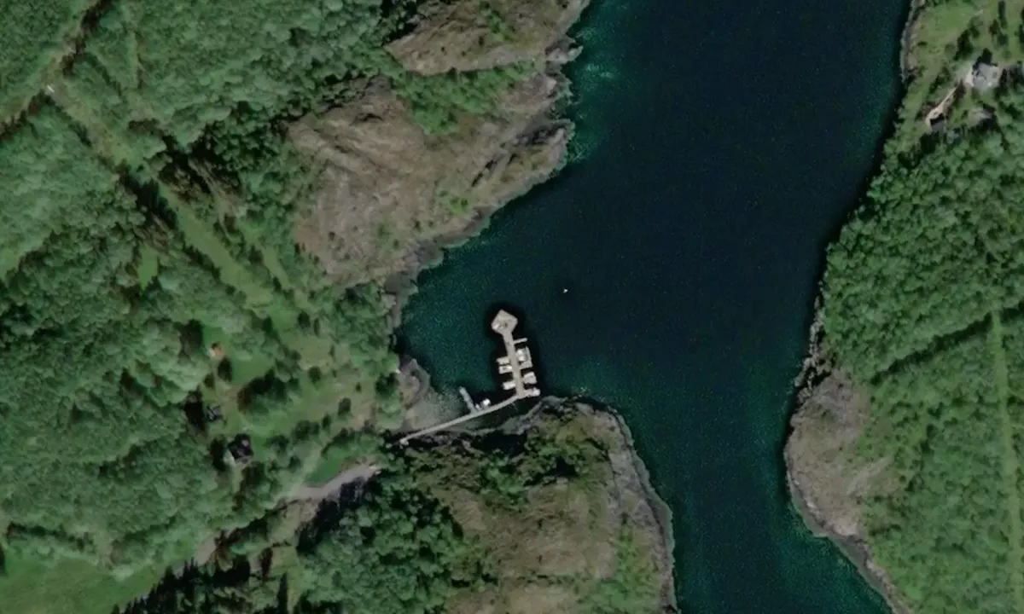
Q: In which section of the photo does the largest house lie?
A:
top right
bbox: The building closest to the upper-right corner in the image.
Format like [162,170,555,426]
[969,64,999,89]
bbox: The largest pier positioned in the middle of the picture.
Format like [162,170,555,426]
[492,309,536,399]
